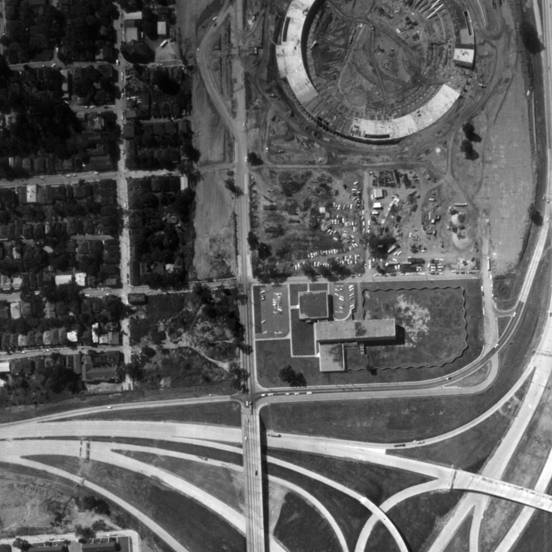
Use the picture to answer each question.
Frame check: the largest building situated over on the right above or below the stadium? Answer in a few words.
below it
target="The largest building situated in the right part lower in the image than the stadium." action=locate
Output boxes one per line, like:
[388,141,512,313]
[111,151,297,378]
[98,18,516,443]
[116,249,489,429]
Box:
[317,319,395,342]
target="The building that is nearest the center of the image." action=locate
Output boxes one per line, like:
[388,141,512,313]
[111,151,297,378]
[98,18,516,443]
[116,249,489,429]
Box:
[299,291,330,321]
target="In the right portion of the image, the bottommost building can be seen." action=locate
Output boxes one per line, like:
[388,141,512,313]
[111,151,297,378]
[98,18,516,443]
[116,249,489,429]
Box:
[320,344,345,372]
